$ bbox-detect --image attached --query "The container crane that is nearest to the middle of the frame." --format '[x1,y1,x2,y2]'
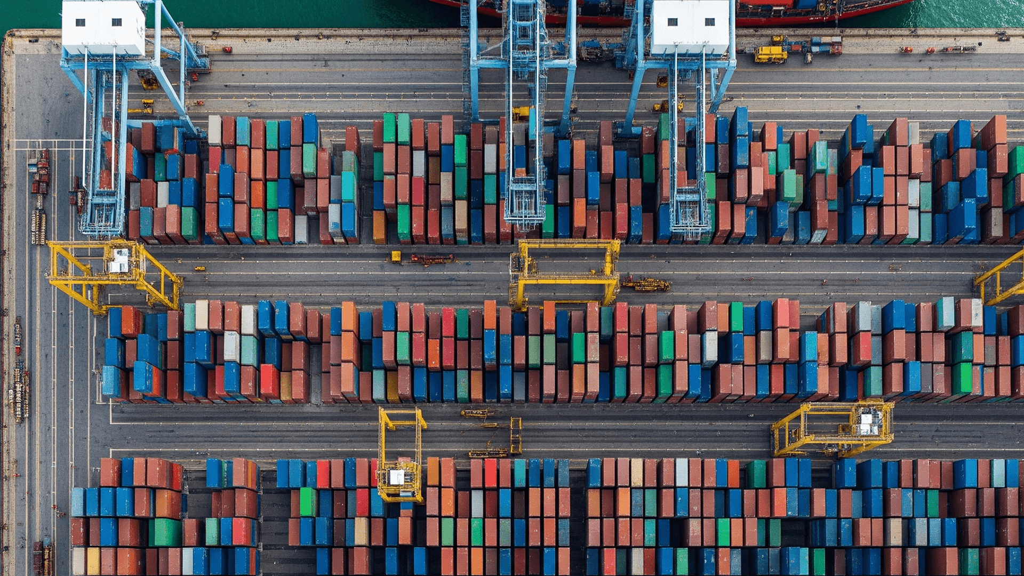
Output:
[510,235,618,316]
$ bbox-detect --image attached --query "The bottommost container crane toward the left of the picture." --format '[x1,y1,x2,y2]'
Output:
[374,401,434,507]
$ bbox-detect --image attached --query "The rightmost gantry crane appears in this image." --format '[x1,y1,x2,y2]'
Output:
[977,238,1024,307]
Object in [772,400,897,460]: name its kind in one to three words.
container crane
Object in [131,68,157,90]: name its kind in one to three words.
work vehicle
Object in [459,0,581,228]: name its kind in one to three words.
container crane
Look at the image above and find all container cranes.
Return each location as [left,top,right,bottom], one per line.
[48,239,184,317]
[52,0,217,240]
[374,401,434,507]
[510,235,618,316]
[459,0,581,228]
[605,0,740,243]
[977,238,1024,307]
[772,400,897,460]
